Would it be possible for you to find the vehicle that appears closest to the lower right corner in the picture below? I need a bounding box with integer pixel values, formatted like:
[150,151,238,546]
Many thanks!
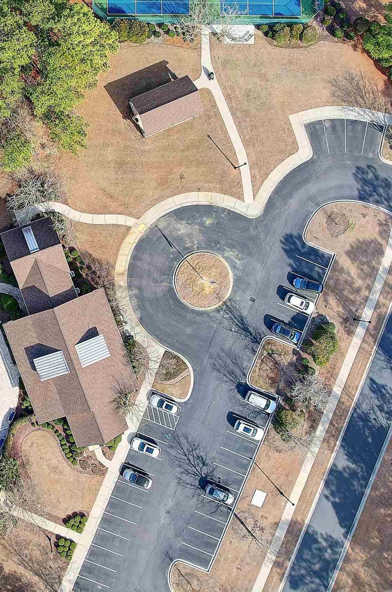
[206,486,236,505]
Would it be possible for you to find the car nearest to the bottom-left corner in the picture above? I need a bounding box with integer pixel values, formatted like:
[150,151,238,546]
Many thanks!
[124,470,154,490]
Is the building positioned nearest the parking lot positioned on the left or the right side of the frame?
left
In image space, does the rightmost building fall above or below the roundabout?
above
